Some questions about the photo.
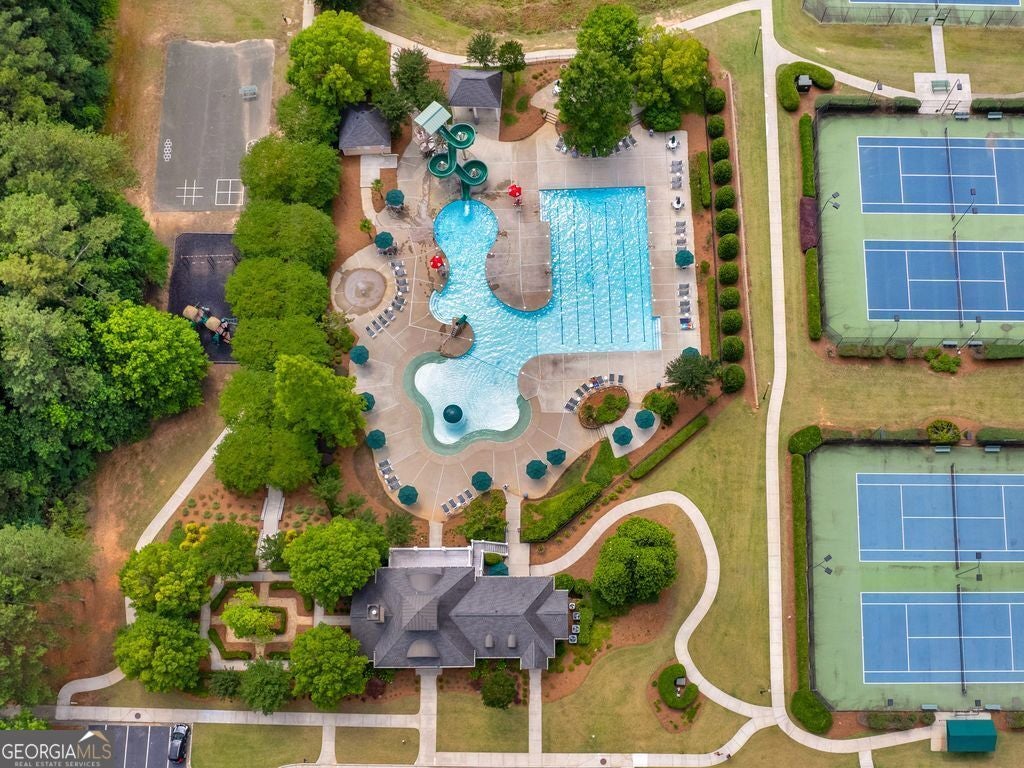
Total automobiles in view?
1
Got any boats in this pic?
No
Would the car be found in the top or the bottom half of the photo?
bottom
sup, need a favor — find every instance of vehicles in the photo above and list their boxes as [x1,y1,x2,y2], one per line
[166,722,188,763]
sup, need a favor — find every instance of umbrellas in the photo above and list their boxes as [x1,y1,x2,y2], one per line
[611,425,632,446]
[526,459,547,480]
[508,185,522,199]
[349,345,370,365]
[430,256,444,271]
[634,409,655,429]
[356,391,377,411]
[546,447,566,466]
[397,484,418,505]
[486,557,508,576]
[375,231,394,250]
[674,249,694,269]
[471,470,493,492]
[386,187,406,206]
[365,428,386,449]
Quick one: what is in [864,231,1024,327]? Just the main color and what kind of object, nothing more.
blue tennis court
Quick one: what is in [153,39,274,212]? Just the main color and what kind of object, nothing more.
gray sports court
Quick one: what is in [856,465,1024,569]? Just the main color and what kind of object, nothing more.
blue tennis court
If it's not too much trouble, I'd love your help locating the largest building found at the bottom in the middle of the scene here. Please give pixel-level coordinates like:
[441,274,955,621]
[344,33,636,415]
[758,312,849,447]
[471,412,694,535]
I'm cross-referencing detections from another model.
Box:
[352,539,568,670]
